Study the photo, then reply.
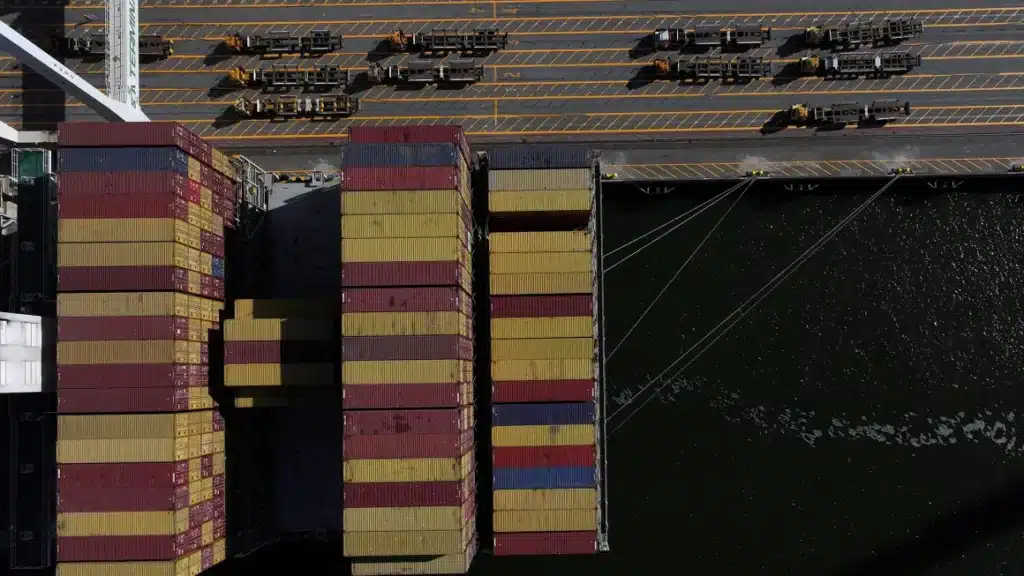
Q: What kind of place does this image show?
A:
port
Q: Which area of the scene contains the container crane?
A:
top left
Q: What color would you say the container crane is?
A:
white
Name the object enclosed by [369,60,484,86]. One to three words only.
truck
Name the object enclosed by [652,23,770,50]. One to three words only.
truck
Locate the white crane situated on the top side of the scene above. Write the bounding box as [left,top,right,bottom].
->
[0,0,152,148]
